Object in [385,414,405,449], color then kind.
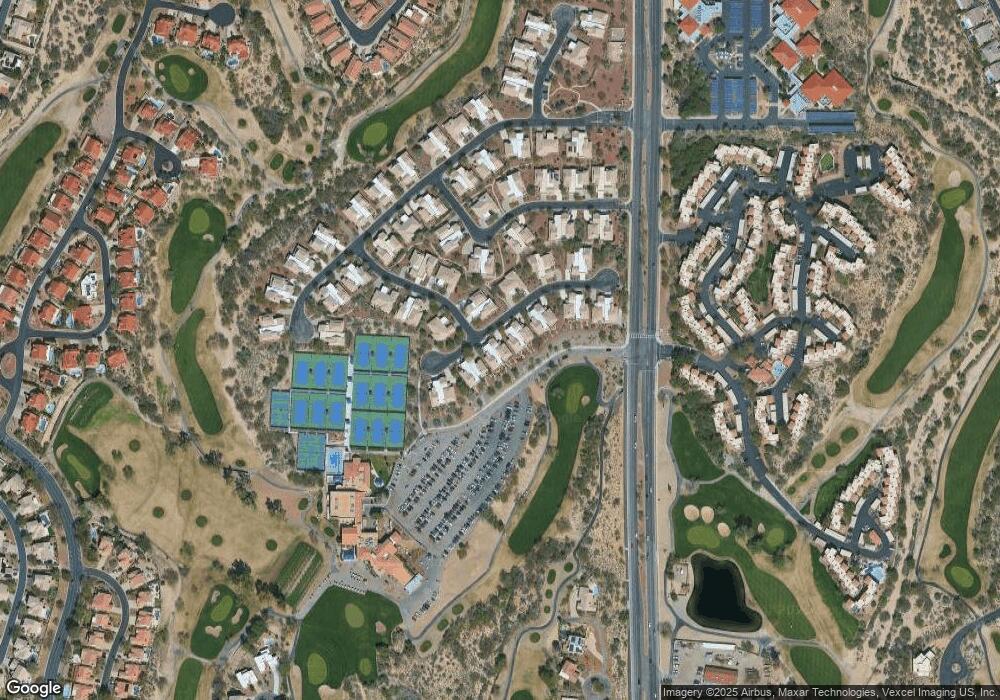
blue tennis court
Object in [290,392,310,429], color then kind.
blue tennis court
